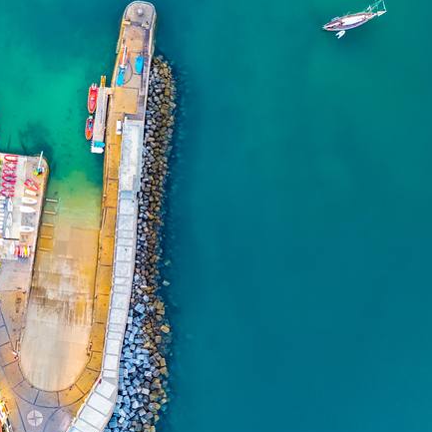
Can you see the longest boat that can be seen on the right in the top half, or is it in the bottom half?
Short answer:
top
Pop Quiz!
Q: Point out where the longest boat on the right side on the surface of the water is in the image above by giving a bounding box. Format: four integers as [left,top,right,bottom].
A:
[322,5,389,31]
